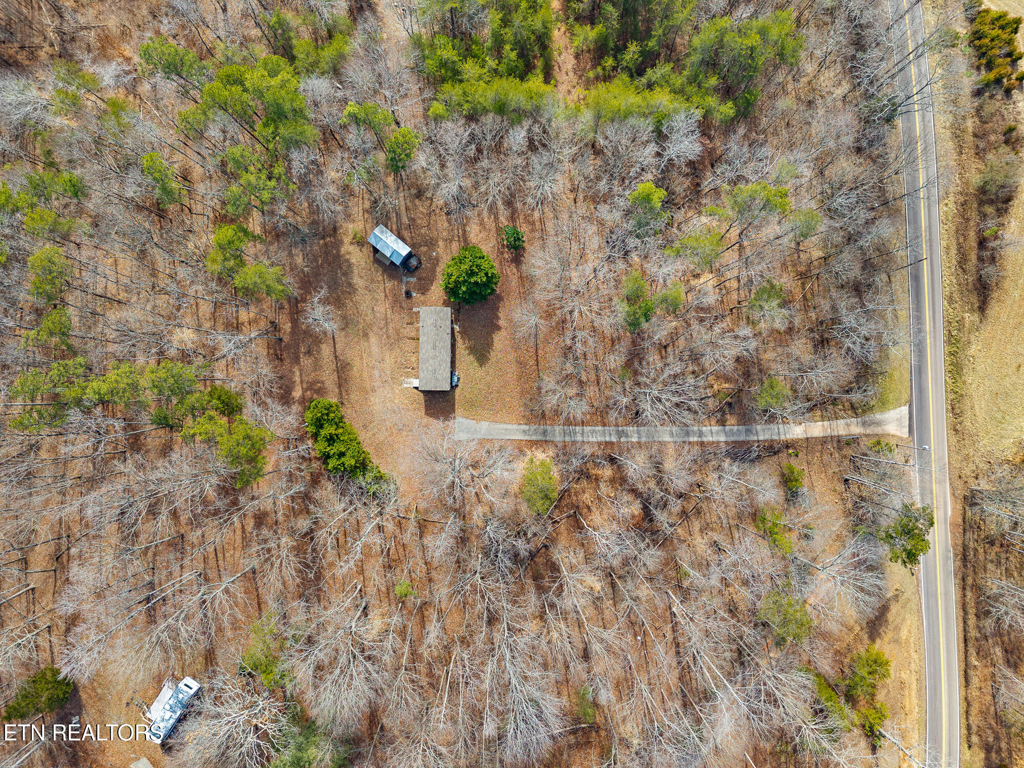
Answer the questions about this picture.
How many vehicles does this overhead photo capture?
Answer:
2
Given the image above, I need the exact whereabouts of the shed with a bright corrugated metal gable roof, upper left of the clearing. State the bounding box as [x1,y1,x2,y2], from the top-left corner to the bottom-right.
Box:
[369,225,412,266]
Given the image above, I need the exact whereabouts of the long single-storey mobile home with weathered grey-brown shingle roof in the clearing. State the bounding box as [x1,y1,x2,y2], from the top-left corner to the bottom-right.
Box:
[419,307,452,391]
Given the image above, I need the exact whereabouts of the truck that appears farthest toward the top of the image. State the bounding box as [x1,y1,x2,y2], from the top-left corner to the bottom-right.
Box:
[402,253,425,275]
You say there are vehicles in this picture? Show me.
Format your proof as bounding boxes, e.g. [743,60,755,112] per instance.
[148,672,205,742]
[402,253,425,275]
